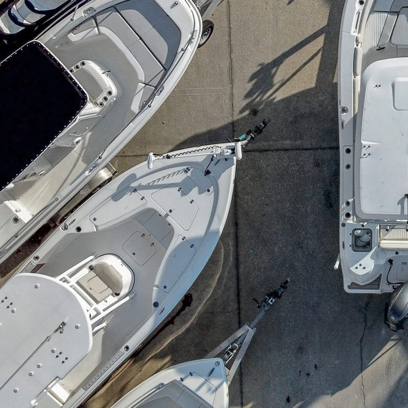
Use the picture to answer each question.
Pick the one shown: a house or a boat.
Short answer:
boat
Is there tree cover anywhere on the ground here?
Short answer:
No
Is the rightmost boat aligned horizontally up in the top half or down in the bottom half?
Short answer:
bottom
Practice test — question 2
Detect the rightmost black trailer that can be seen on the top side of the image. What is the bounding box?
[232,110,283,170]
